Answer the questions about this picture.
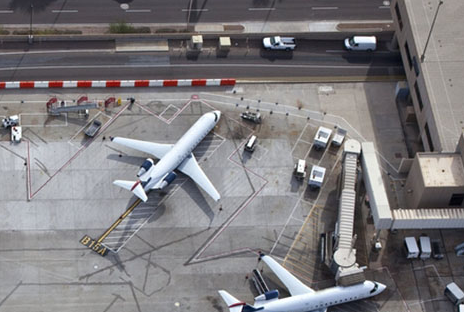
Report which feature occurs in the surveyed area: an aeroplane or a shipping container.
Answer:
aeroplane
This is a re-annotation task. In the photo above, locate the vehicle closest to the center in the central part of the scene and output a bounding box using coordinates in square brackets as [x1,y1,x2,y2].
[243,134,258,154]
